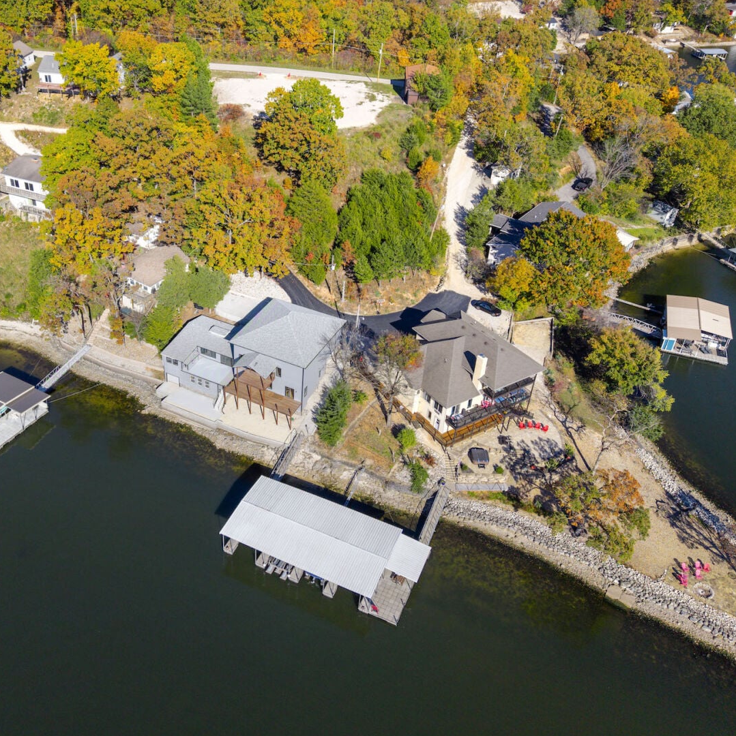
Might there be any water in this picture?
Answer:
Yes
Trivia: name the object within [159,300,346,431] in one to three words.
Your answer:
house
